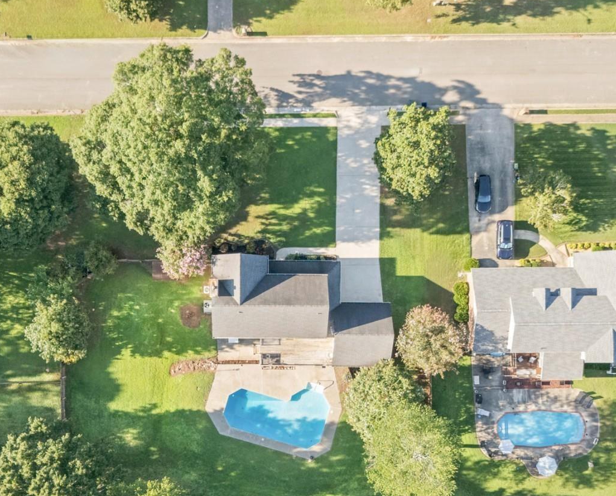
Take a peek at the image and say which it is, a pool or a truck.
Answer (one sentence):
This aerial view contains a pool.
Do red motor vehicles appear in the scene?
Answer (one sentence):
No, the photo shows no red motor vehicle.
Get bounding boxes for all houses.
[209,253,394,366]
[468,250,616,380]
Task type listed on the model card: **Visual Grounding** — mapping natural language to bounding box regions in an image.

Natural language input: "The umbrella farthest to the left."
[498,439,513,453]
